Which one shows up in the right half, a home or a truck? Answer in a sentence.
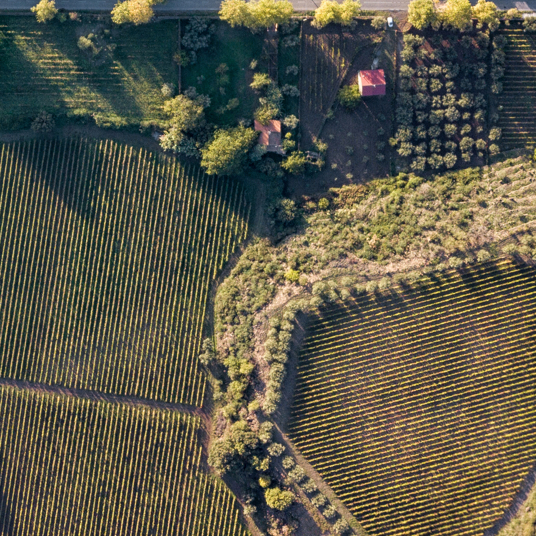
It is a home that can be seen in the right half.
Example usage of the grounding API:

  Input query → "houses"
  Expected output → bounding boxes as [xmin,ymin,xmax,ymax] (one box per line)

[356,69,386,97]
[252,120,284,154]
